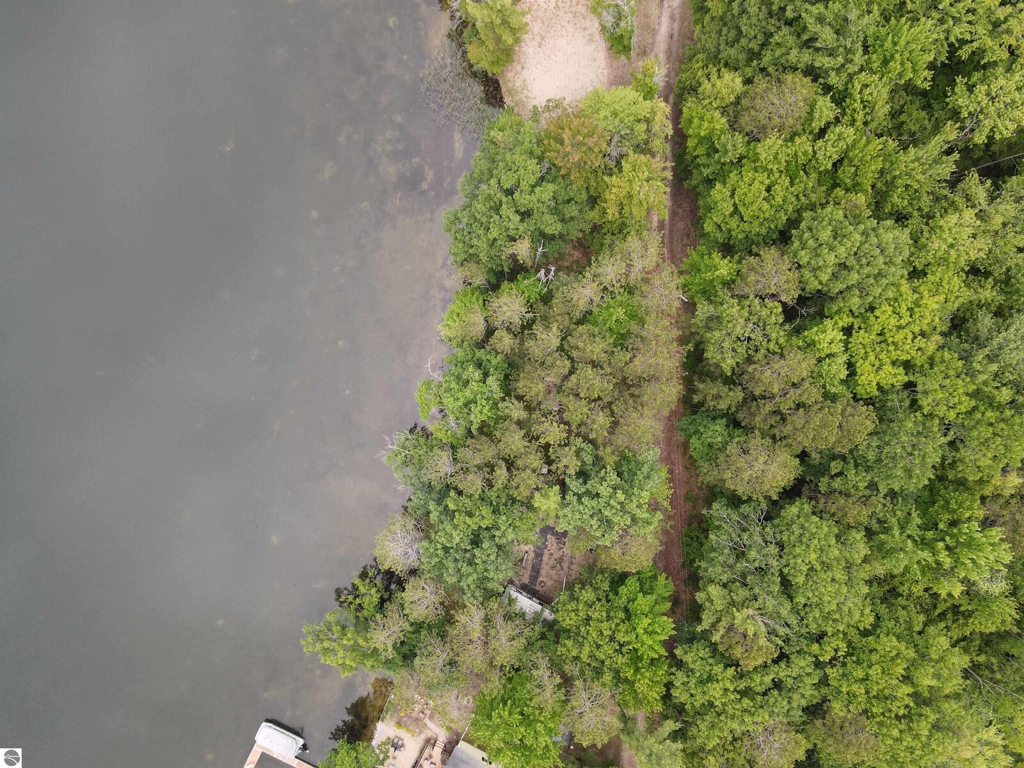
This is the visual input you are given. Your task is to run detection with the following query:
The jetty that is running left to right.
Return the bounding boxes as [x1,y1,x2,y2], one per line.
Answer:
[244,740,309,768]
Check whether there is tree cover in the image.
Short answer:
Yes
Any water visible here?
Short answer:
Yes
